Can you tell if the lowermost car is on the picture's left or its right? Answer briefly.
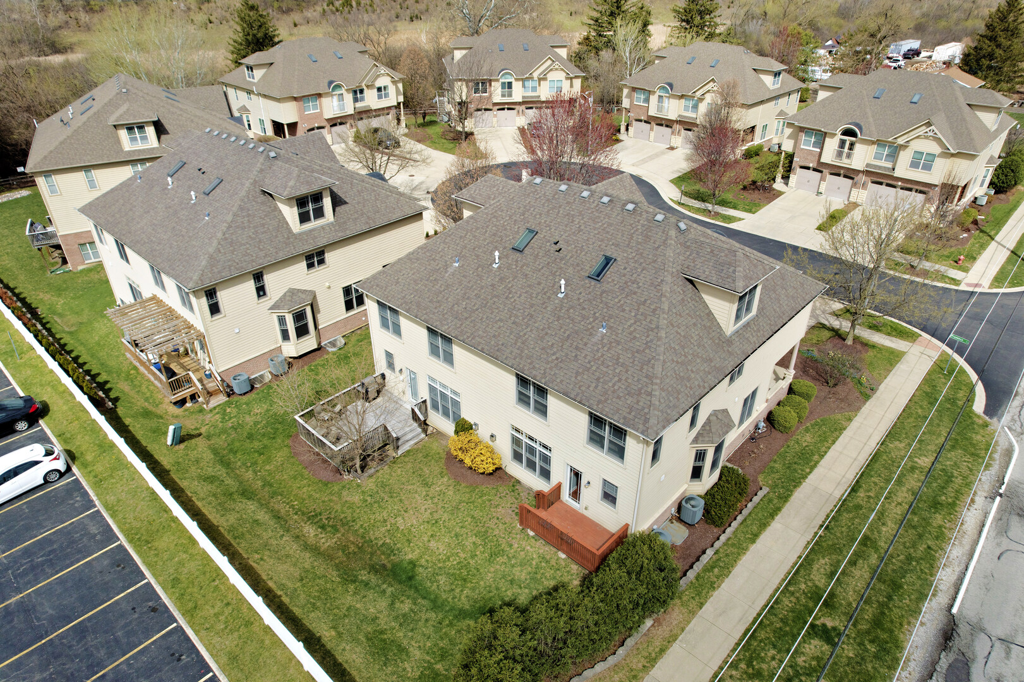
left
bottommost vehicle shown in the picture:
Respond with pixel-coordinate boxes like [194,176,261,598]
[0,444,62,498]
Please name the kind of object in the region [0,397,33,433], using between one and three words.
car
